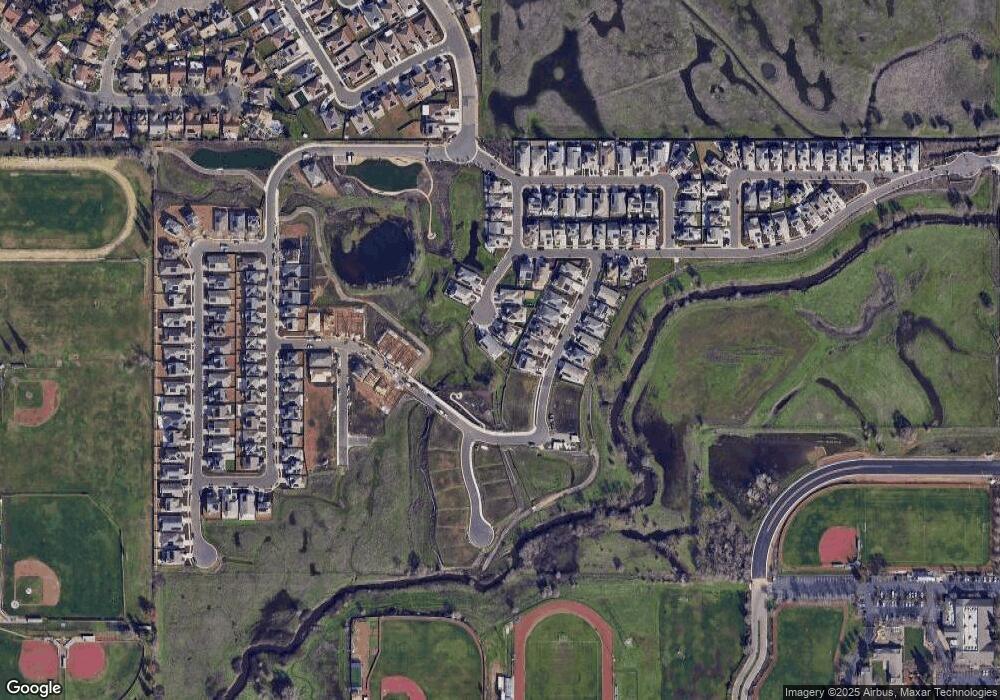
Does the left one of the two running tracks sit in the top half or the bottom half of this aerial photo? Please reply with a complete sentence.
The top half of the photo is where the left one of the two running tracks is.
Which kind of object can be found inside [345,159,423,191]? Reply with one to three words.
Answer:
pond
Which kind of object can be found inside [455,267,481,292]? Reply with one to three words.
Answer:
house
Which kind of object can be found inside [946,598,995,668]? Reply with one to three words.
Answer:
building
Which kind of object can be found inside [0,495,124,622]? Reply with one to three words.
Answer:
baseball field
